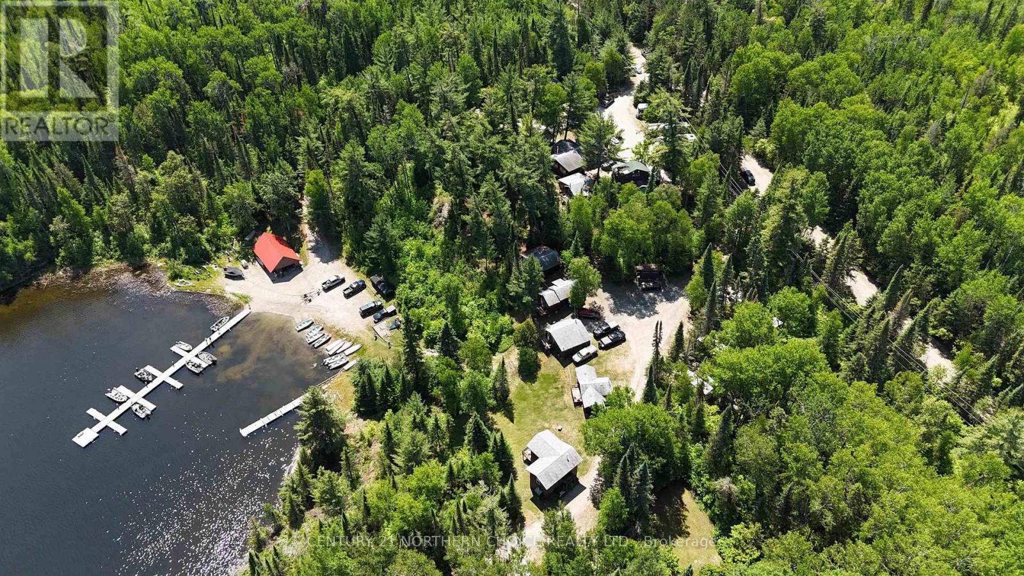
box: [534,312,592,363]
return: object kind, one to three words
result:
building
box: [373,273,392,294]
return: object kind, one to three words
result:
vehicle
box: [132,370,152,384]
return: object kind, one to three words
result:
boat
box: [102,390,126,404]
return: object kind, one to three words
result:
boat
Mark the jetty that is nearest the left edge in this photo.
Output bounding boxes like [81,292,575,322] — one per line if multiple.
[67,305,251,452]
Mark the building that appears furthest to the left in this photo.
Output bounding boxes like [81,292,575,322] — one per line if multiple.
[252,233,301,275]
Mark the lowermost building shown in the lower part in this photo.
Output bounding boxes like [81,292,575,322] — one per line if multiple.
[522,432,580,501]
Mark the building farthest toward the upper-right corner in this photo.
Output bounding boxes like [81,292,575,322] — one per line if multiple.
[617,161,651,186]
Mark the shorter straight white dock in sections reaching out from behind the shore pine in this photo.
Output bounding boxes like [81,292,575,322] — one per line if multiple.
[238,392,310,437]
